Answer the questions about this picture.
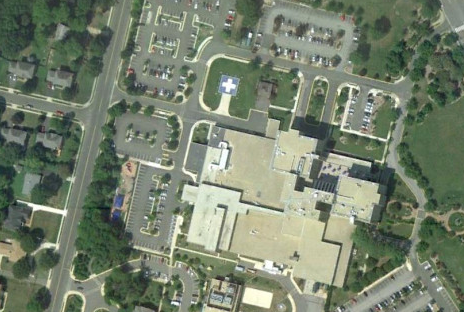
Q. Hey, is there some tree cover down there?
Yes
